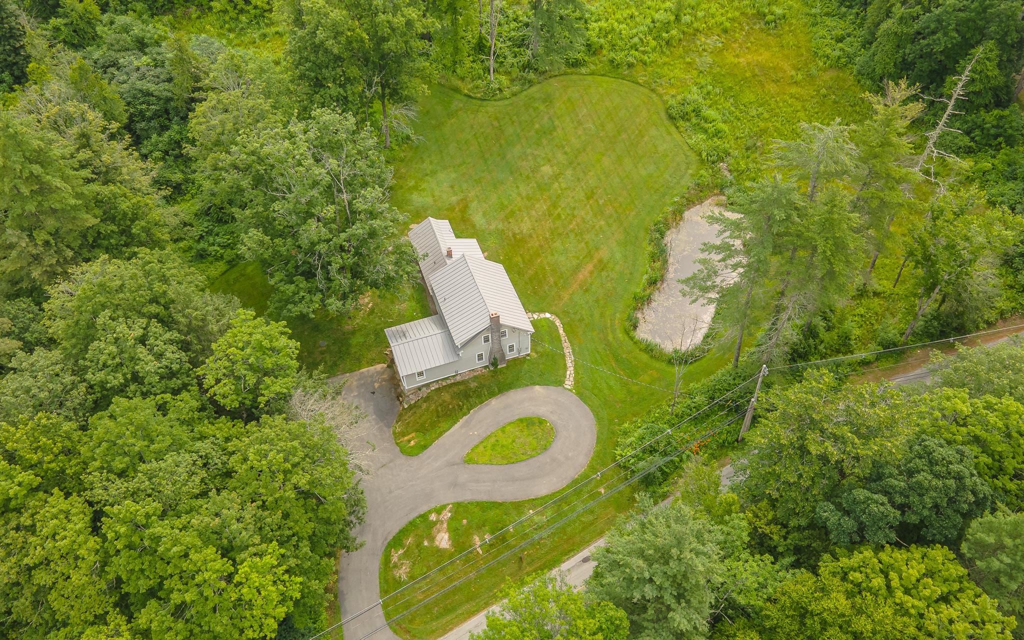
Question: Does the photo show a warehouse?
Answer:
No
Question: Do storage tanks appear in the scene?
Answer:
No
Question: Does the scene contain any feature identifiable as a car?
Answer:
No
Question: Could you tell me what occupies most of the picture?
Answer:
trees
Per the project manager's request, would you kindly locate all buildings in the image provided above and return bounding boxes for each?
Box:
[382,216,534,394]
